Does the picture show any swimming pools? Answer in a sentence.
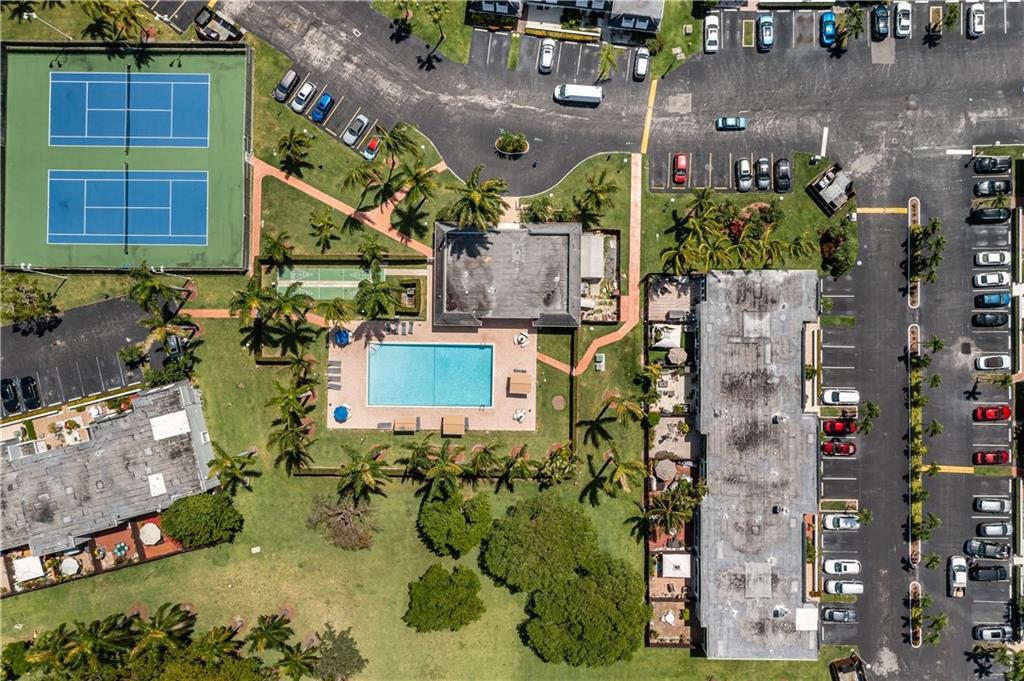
Yes, I can see a swimming pool in this picture.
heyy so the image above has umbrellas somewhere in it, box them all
[655,459,677,481]
[138,522,162,546]
[333,328,351,346]
[668,347,688,366]
[59,556,82,577]
[333,405,349,422]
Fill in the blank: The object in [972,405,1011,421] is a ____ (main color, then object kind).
red car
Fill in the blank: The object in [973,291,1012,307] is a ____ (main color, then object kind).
blue vehicle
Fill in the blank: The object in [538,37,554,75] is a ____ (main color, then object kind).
white car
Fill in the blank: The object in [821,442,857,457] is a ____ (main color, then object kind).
red car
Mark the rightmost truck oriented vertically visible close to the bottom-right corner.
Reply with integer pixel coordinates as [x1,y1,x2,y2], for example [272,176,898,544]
[947,554,968,599]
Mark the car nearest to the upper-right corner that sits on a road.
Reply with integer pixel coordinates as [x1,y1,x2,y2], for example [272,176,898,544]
[966,2,987,40]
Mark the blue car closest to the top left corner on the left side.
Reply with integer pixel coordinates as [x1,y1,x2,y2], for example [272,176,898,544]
[310,91,335,124]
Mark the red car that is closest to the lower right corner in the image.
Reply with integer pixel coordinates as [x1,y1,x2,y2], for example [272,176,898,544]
[971,450,1009,466]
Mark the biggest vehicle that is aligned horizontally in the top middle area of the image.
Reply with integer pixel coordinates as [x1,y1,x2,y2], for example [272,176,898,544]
[553,83,604,104]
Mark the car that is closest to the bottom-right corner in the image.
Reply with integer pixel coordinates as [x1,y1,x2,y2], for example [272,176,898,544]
[972,624,1011,643]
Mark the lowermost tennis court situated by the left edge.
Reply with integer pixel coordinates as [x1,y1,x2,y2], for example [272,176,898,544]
[5,158,250,268]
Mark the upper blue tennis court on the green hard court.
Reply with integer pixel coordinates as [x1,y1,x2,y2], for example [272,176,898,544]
[6,48,242,158]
